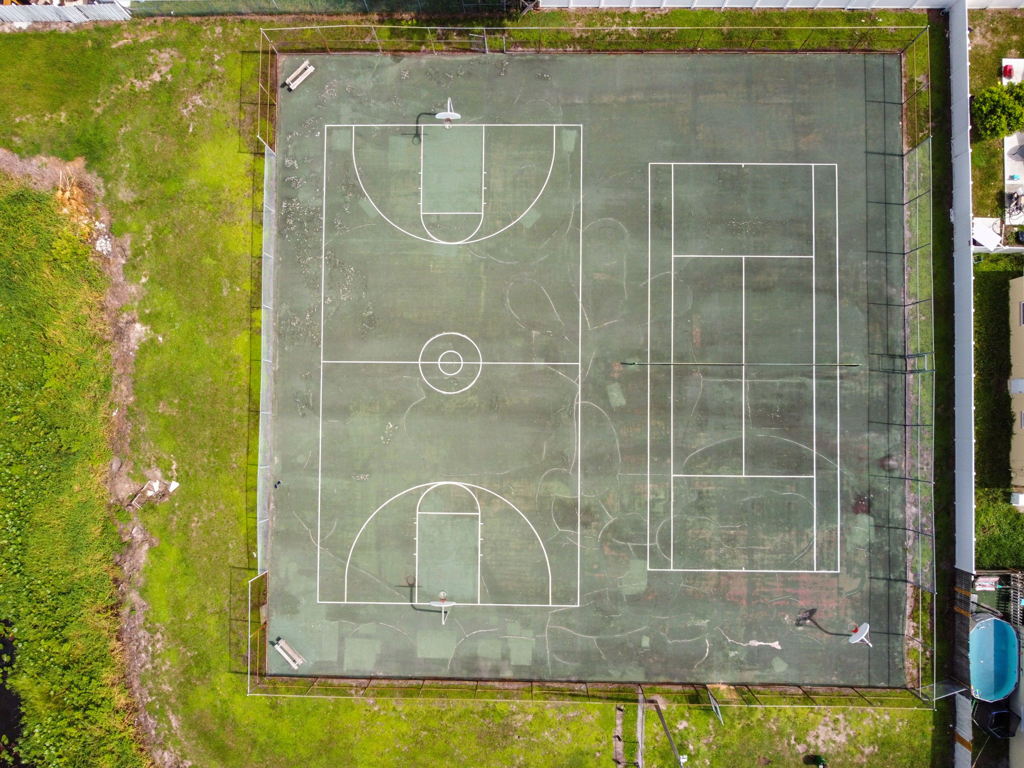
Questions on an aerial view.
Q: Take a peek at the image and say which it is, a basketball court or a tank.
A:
basketball court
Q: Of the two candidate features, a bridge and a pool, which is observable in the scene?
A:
pool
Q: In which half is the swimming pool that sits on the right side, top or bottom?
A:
bottom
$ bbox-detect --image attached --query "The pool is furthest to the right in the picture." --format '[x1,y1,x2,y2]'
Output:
[957,612,1019,702]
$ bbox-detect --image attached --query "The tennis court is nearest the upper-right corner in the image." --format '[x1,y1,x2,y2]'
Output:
[647,163,840,572]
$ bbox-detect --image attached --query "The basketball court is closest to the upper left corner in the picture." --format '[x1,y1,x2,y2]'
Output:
[317,124,582,607]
